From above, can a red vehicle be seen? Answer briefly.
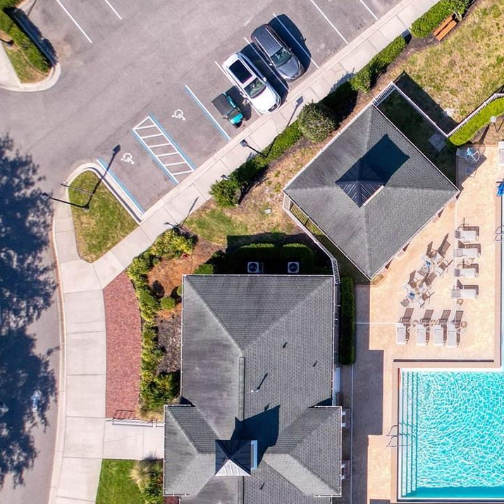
No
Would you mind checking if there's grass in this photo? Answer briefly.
Yes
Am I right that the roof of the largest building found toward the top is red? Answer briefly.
No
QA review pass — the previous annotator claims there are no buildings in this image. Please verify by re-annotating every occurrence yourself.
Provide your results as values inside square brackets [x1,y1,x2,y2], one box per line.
[162,273,358,504]
[283,101,462,278]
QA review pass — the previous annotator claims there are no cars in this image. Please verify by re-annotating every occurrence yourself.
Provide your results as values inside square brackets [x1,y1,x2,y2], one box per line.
[218,47,280,113]
[246,19,305,81]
